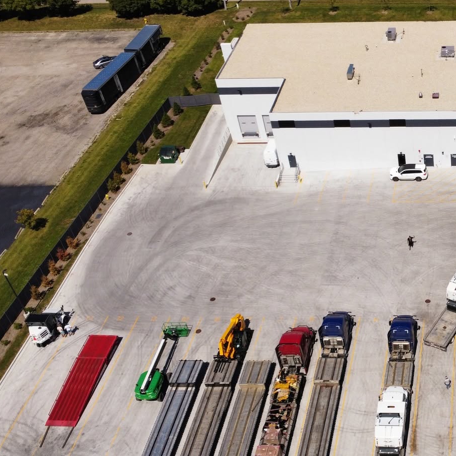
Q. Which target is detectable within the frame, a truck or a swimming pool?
truck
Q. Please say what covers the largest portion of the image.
paved ground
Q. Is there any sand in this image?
No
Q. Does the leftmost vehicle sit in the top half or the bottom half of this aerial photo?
bottom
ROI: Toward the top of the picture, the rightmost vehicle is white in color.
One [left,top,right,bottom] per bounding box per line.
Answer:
[389,164,428,182]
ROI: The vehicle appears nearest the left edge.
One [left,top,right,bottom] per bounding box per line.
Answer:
[24,293,74,345]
